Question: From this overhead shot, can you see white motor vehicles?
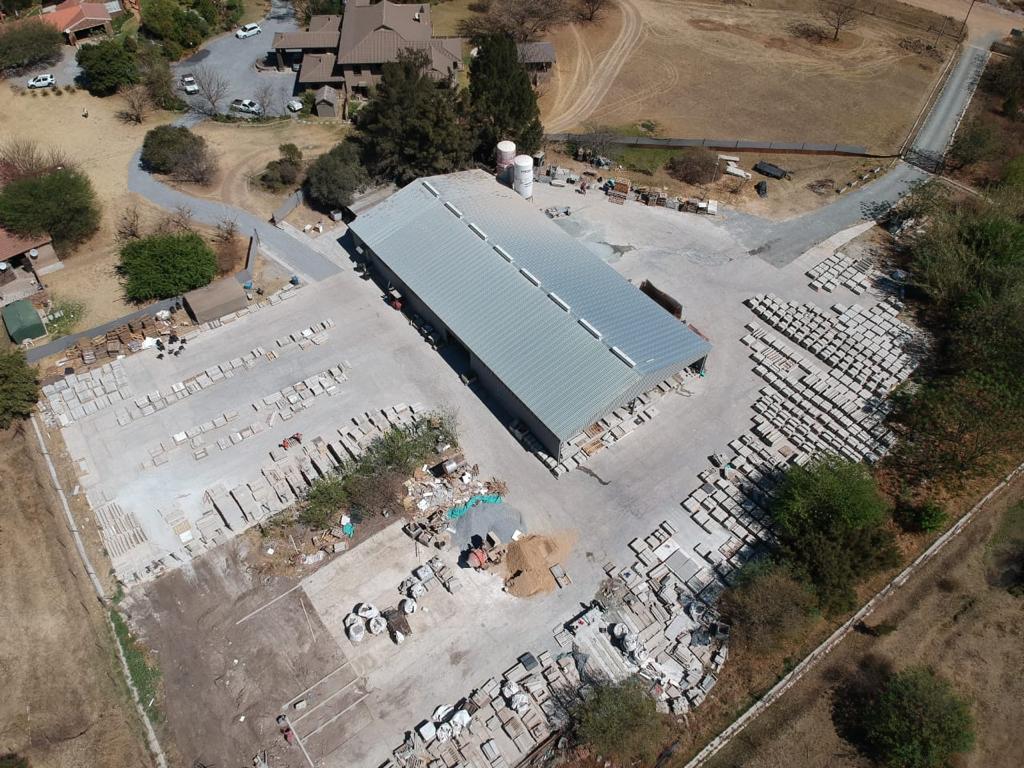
Yes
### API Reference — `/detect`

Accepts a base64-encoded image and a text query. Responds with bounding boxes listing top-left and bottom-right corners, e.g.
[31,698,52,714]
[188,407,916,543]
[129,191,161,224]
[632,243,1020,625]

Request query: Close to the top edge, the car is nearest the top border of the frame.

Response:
[234,20,263,38]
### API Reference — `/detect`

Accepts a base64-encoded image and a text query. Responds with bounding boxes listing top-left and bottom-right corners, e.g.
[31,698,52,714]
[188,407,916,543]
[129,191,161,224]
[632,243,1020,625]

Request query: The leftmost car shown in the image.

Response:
[24,73,55,89]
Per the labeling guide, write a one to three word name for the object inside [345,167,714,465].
shed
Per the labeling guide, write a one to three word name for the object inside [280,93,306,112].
car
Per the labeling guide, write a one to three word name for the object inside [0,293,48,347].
tent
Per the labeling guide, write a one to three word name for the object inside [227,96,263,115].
vehicle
